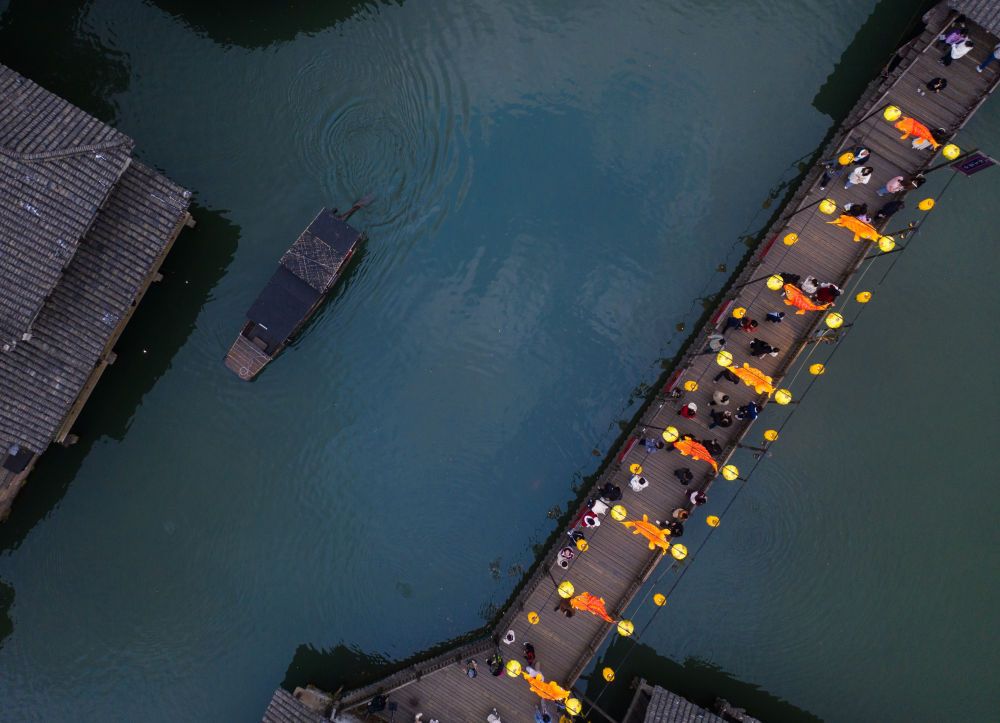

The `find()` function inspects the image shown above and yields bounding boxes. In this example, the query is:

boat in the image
[224,194,373,379]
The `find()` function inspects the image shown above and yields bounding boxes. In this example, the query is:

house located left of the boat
[0,58,202,456]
